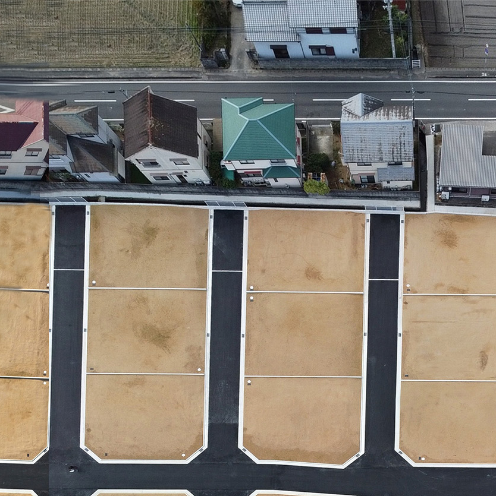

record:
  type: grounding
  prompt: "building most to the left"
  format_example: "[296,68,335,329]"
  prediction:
[0,93,56,171]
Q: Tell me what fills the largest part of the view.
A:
paved ground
